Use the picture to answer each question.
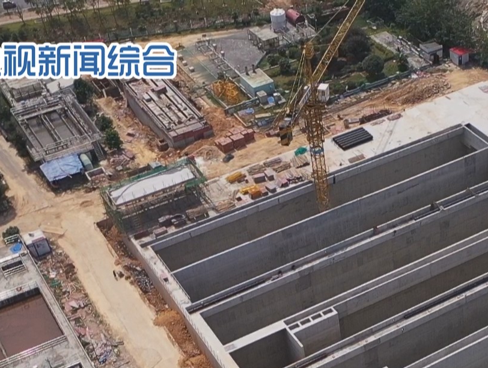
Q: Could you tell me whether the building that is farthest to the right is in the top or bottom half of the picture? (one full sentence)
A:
It is in the top half that the building that is farthest to the right appears.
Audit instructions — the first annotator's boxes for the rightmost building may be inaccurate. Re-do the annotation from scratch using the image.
[450,44,471,71]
